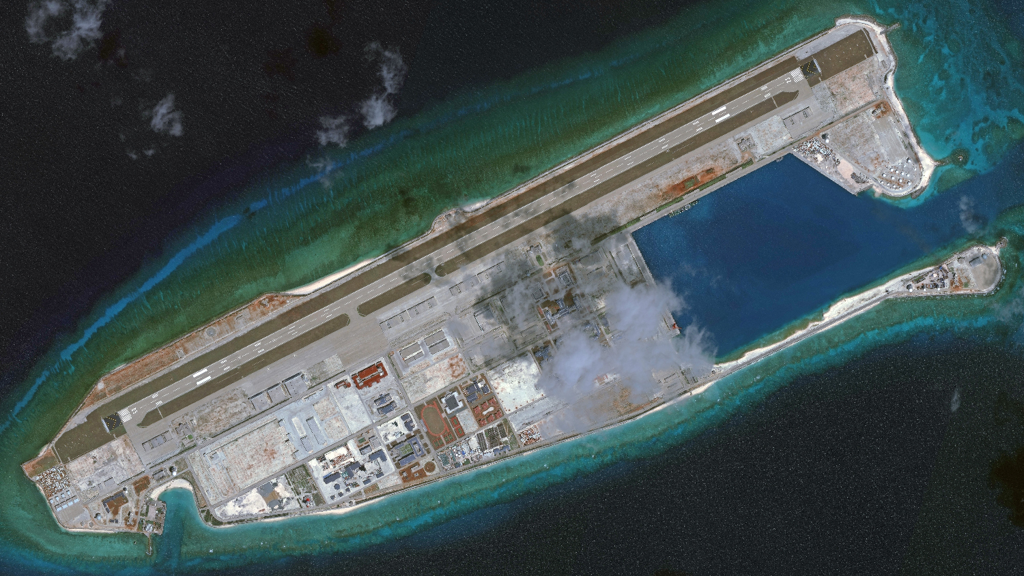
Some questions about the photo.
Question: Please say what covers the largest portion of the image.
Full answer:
The bulk of the photo consists of water.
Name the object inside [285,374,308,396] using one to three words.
hangar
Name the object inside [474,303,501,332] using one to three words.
hangar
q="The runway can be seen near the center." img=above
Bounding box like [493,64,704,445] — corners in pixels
[118,65,806,424]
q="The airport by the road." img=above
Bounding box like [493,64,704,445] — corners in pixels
[54,28,875,469]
